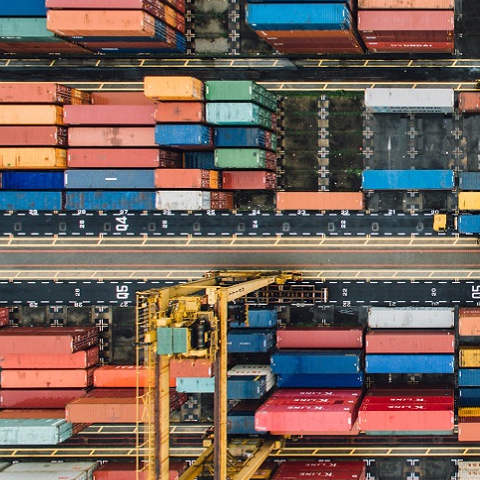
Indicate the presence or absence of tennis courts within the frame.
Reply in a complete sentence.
No, I can't see a single tennis court in this photo.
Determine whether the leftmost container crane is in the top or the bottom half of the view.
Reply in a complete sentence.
You can find the leftmost container crane in the bottom half.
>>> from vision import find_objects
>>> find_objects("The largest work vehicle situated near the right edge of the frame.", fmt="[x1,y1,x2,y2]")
[431,212,468,234]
